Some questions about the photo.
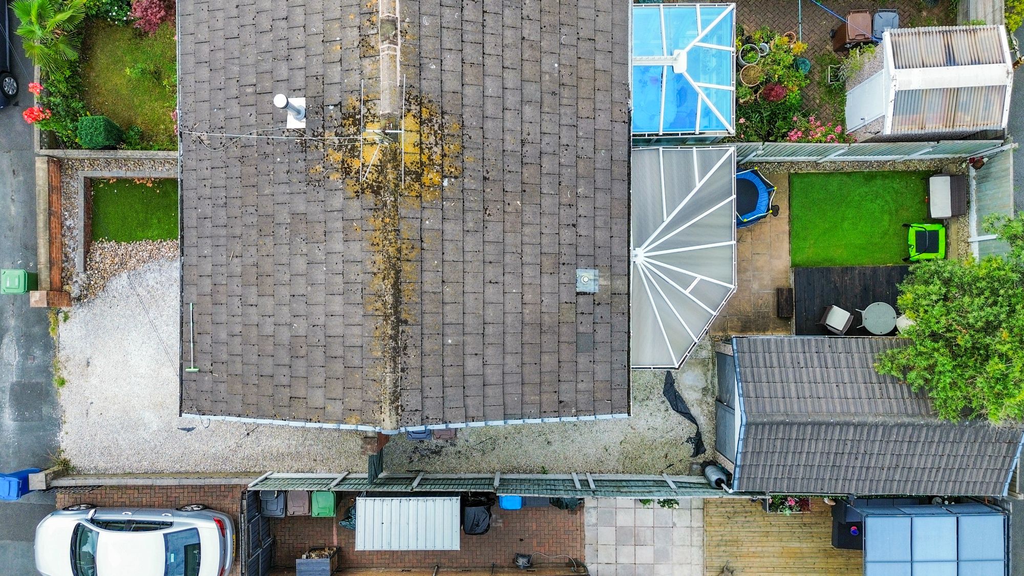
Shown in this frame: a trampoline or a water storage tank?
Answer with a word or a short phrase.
trampoline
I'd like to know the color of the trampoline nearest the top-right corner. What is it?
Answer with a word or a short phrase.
green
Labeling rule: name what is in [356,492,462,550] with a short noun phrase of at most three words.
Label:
shed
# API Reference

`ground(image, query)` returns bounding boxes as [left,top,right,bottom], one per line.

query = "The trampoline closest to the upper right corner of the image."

[897,223,945,262]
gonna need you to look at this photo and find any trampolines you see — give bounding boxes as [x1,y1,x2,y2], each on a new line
[897,223,945,262]
[736,162,782,223]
